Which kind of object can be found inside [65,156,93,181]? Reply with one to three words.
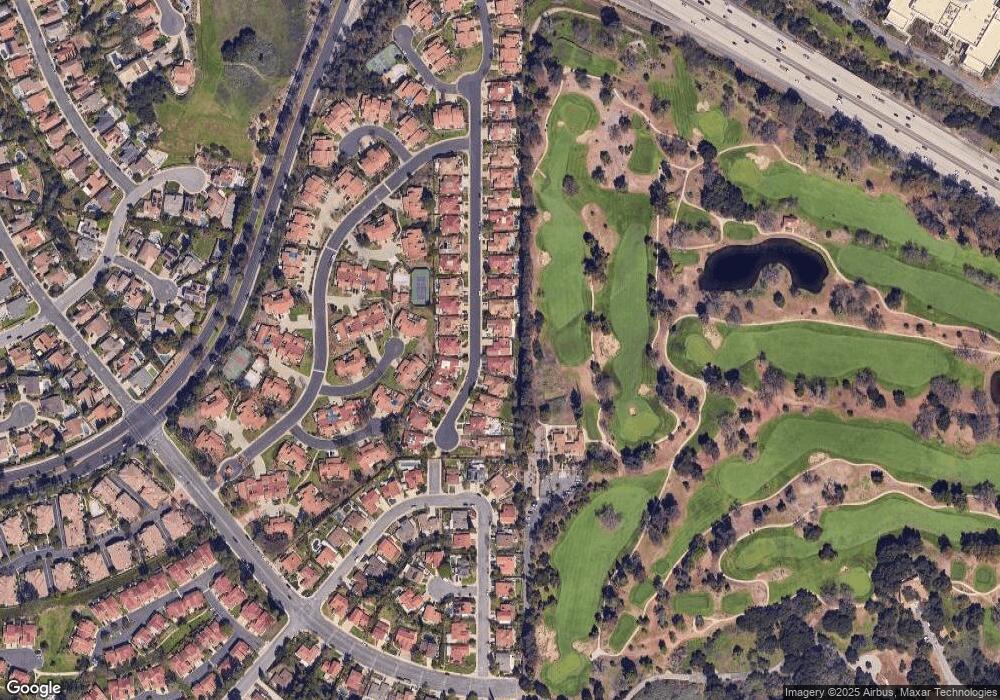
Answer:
house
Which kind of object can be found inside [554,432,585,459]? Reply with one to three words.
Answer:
building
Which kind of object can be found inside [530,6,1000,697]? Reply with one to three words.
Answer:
golf course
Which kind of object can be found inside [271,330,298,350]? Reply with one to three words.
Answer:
house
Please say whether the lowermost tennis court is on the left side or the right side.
left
